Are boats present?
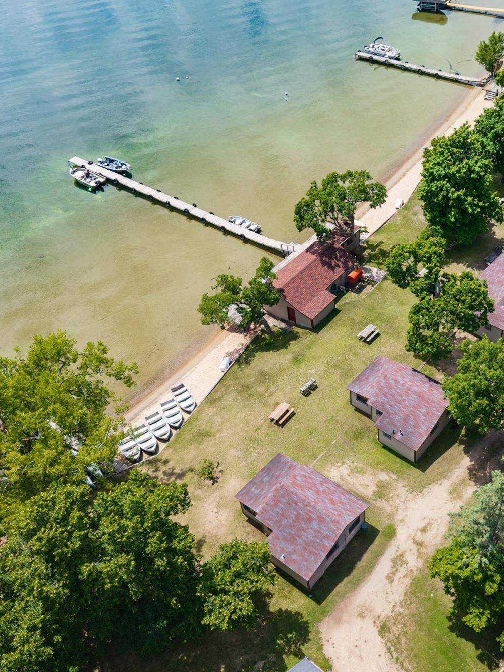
Yes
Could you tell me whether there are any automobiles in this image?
No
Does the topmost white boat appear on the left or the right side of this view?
right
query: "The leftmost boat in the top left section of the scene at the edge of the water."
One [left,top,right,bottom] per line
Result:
[69,169,107,190]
